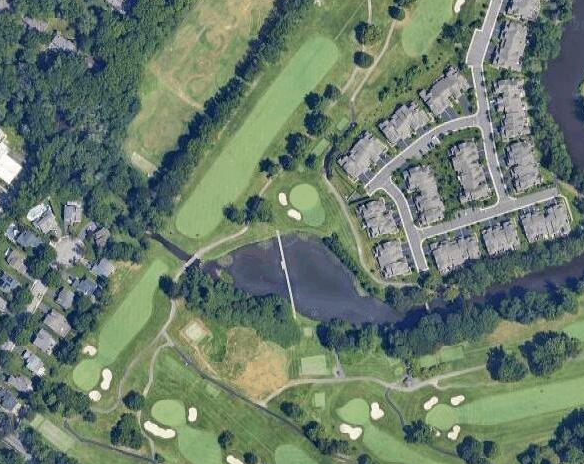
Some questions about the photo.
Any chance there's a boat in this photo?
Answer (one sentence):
No, the photo shows no boat.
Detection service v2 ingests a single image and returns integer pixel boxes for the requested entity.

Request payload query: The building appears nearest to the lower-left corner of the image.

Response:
[0,389,20,414]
